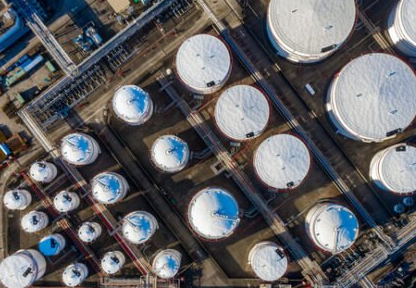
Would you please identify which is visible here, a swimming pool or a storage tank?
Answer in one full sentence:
Of the two, only a storage tank appears.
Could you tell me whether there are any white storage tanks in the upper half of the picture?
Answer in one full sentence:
Yes, in the upper half of the picture there is a white storage tank.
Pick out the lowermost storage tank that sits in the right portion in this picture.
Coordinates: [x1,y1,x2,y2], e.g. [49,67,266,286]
[248,240,289,283]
